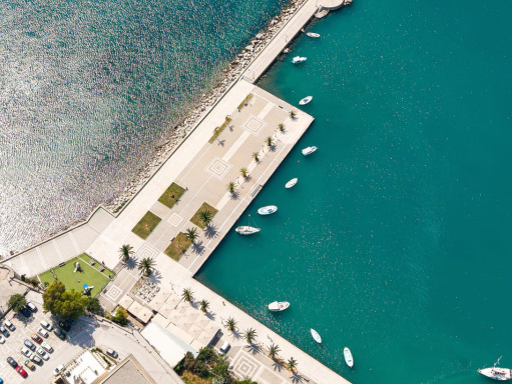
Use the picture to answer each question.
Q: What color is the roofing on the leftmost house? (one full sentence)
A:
The roof of the leftmost house is white.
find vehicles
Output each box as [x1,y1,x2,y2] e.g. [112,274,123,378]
[217,338,232,354]
[28,352,45,367]
[23,357,38,372]
[2,318,17,332]
[36,325,50,339]
[0,324,11,338]
[17,304,32,318]
[23,299,38,313]
[22,336,37,352]
[19,344,32,358]
[35,346,51,361]
[29,330,43,345]
[52,361,65,376]
[13,363,29,379]
[58,318,72,332]
[5,354,19,368]
[105,346,120,361]
[39,338,55,354]
[52,326,67,341]
[0,334,6,345]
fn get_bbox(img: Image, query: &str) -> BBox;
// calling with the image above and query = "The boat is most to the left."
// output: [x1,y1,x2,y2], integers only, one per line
[235,217,260,233]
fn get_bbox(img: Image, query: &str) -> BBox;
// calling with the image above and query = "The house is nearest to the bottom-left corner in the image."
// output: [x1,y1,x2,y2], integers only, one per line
[63,348,112,384]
